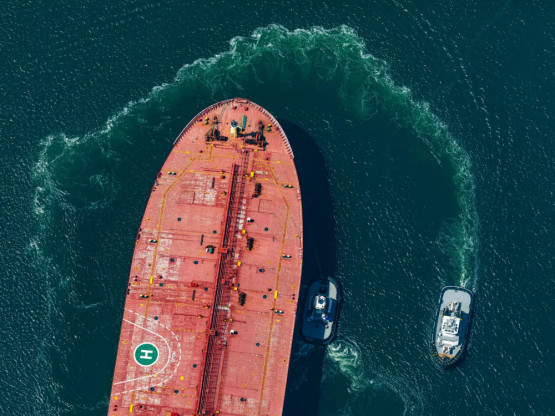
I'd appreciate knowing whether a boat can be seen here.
Yes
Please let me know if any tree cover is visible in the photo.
No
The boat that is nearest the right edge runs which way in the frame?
from top to bottom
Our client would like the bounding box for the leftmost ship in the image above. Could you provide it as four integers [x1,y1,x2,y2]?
[107,96,303,416]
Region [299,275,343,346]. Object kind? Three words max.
boat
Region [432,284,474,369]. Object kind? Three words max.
boat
